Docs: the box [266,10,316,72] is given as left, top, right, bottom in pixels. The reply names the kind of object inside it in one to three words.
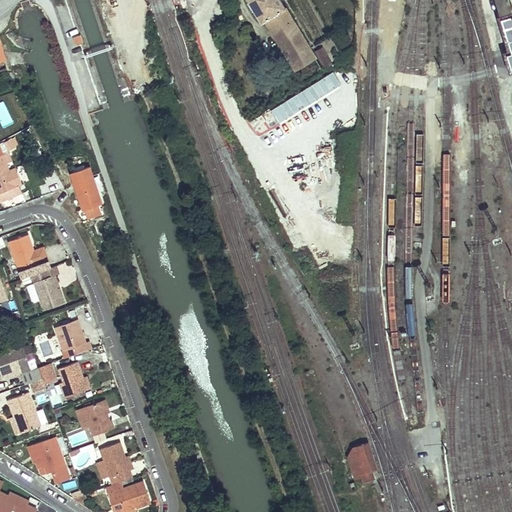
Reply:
barn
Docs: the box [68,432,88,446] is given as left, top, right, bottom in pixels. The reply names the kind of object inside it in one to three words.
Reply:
swimming pool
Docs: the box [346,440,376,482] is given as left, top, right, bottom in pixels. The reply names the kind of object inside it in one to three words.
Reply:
building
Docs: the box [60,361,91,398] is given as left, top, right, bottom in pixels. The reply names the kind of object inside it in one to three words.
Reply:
house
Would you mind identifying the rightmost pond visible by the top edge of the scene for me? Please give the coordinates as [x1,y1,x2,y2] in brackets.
[18,5,84,138]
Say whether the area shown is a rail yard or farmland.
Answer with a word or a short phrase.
rail yard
